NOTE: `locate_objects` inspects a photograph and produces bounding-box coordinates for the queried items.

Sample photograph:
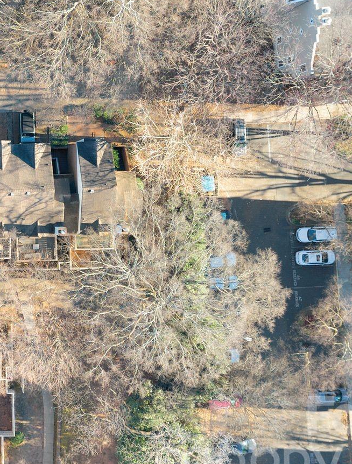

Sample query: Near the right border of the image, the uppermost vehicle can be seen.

[295,226,336,243]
